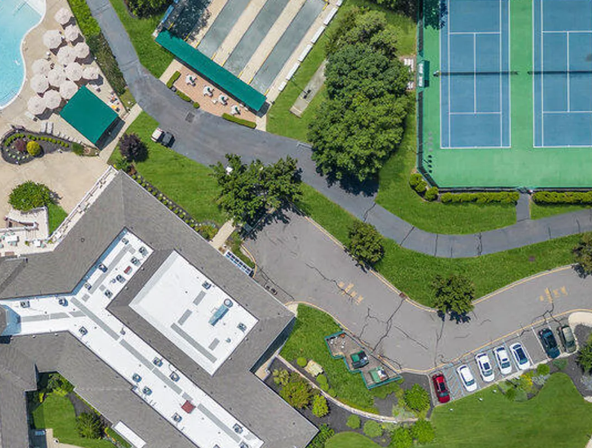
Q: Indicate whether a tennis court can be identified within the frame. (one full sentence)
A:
Yes, looking at the shot, I can spot a tennis court.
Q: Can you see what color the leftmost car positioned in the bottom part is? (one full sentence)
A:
The color of the leftmost car positioned in the bottom part is red.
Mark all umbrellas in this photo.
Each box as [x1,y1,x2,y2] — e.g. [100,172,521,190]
[31,58,51,78]
[57,47,76,65]
[53,5,74,27]
[30,76,49,93]
[42,29,63,50]
[64,63,81,81]
[48,68,67,88]
[62,23,81,43]
[44,90,62,109]
[71,41,90,60]
[58,80,79,101]
[80,62,102,83]
[26,95,47,116]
